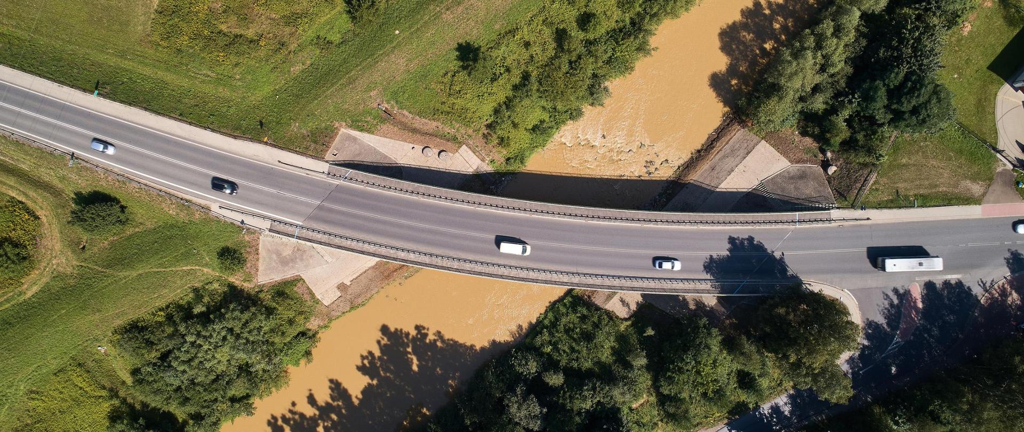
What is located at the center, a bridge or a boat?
bridge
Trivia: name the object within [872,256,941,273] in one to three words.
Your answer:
vehicle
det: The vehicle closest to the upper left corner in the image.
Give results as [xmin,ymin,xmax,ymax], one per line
[89,138,116,153]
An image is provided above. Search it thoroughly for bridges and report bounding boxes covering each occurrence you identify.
[217,161,871,296]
